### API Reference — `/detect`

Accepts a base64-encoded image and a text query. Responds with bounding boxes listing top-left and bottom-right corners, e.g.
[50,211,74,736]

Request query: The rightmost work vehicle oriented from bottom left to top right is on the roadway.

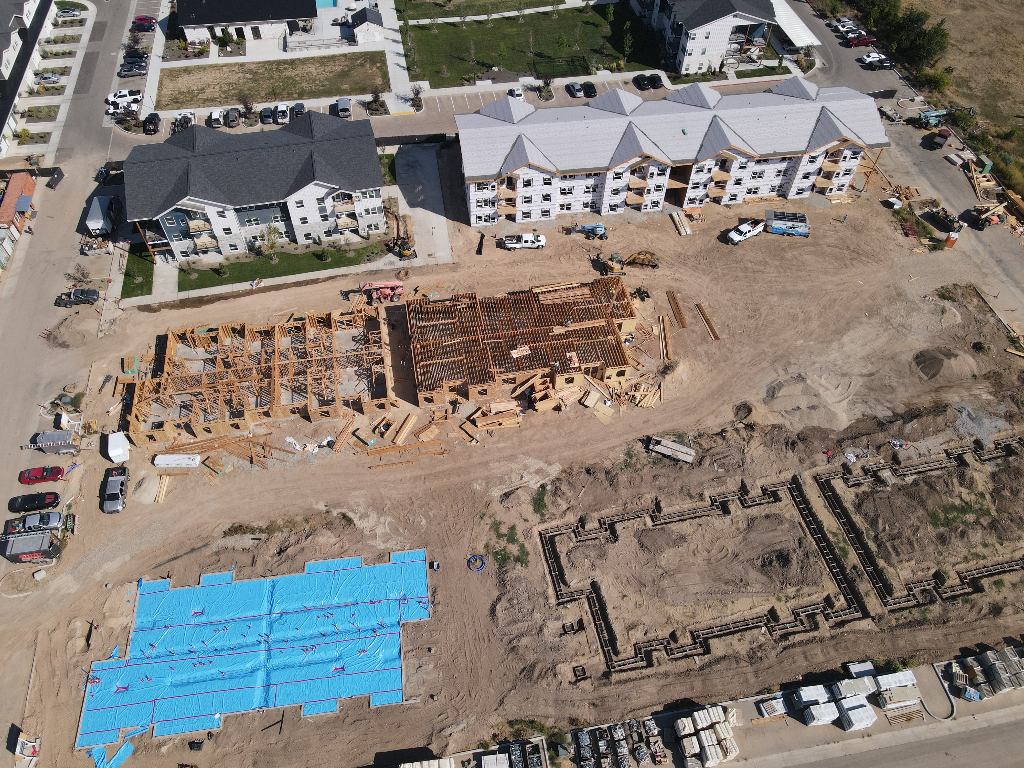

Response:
[972,193,1021,230]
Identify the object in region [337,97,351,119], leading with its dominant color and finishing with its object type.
gray vehicle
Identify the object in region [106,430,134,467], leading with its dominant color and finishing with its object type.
white trailer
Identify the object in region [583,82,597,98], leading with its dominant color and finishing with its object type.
black car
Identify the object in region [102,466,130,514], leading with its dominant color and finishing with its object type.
gray truck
